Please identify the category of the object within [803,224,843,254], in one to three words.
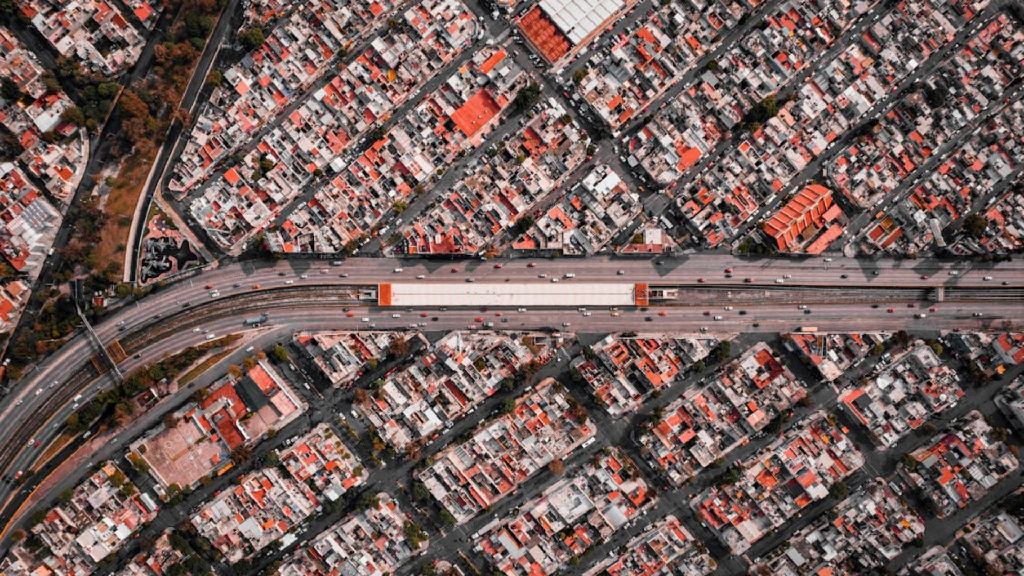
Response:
building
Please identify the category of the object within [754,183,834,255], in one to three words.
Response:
building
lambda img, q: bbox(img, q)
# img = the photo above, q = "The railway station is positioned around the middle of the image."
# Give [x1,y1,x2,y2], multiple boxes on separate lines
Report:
[378,283,649,306]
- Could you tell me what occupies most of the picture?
buildings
